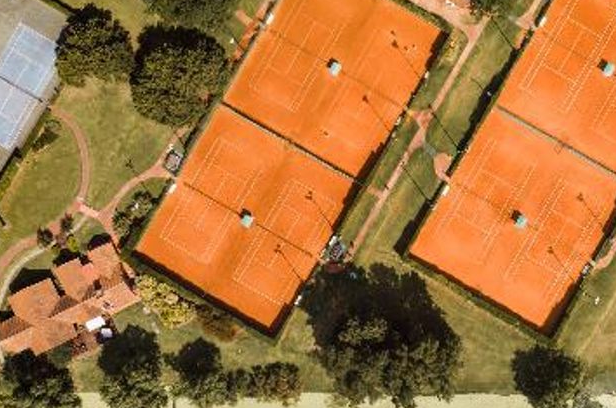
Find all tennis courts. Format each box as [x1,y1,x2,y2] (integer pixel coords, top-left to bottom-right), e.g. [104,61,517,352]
[567,56,616,171]
[214,0,373,142]
[410,107,565,298]
[292,0,449,183]
[481,146,616,340]
[127,101,290,296]
[0,22,68,150]
[497,0,616,143]
[203,144,362,337]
